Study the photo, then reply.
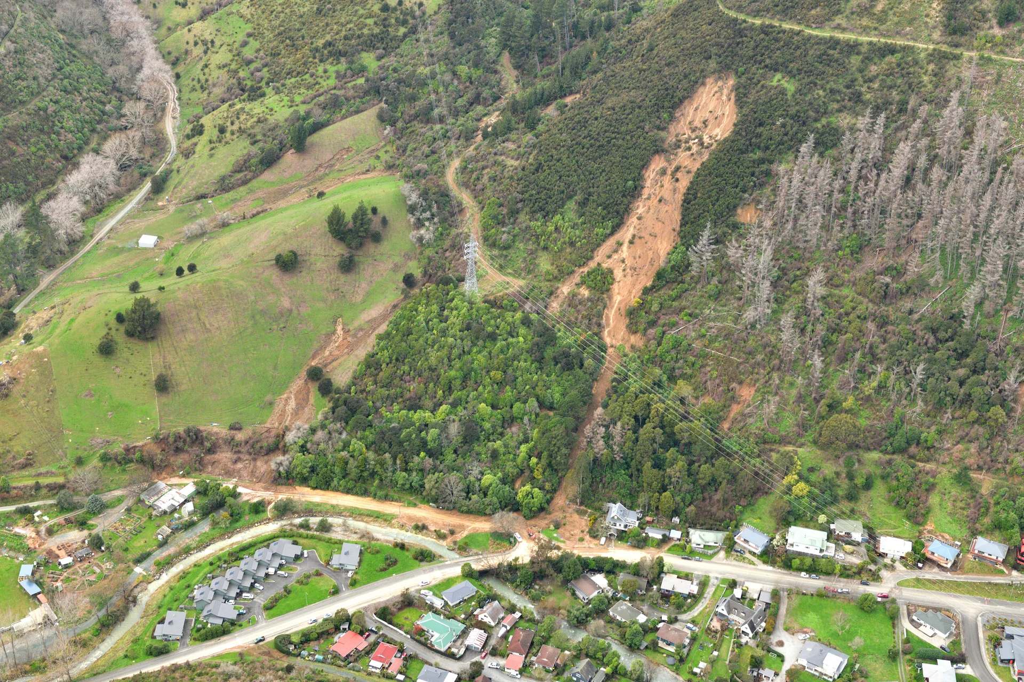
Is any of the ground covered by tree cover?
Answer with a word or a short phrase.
Yes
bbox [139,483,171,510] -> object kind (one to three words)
shed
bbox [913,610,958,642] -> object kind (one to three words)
house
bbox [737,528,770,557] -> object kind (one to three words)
house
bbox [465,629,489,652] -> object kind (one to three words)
building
